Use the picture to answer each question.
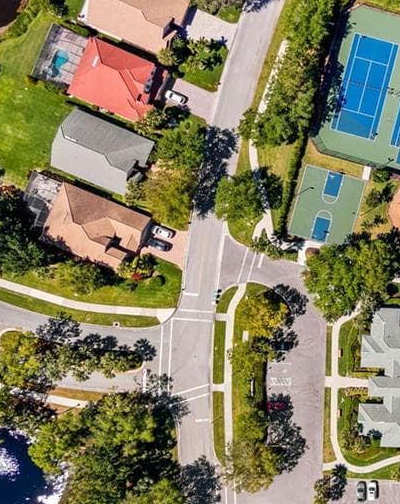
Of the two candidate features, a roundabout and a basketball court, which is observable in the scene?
basketball court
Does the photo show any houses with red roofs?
Yes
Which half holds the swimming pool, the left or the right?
left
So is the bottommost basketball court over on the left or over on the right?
right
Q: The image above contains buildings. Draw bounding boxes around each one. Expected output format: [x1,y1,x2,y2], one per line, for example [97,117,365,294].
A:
[359,308,400,447]
[42,182,154,266]
[68,36,159,121]
[51,107,157,195]
[83,0,194,55]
